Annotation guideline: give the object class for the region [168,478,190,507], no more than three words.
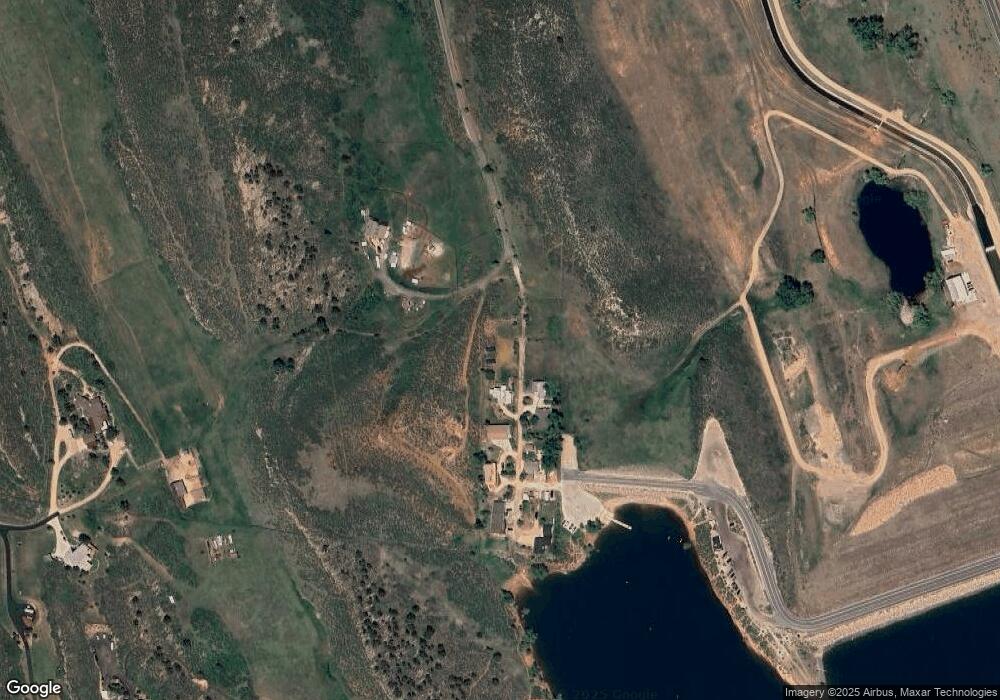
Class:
barn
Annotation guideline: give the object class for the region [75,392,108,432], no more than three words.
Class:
house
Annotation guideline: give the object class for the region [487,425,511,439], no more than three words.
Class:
barn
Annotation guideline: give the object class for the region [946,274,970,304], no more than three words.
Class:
building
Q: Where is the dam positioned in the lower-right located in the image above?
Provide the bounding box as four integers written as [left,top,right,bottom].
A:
[777,465,1000,664]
